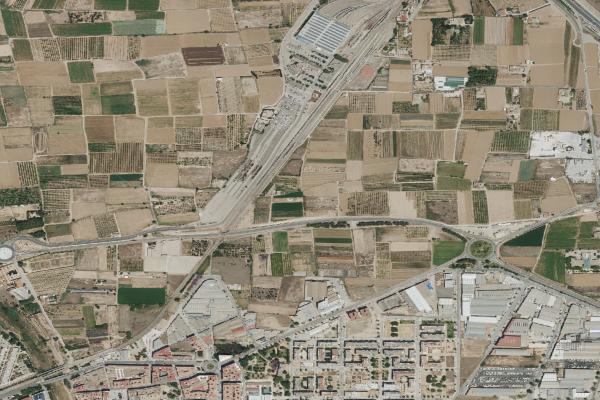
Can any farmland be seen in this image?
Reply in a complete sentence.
Yes, the picture does contain farmland.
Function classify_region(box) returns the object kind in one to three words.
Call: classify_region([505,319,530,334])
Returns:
building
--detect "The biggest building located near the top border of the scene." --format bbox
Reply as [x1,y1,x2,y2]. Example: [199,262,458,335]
[295,11,351,52]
